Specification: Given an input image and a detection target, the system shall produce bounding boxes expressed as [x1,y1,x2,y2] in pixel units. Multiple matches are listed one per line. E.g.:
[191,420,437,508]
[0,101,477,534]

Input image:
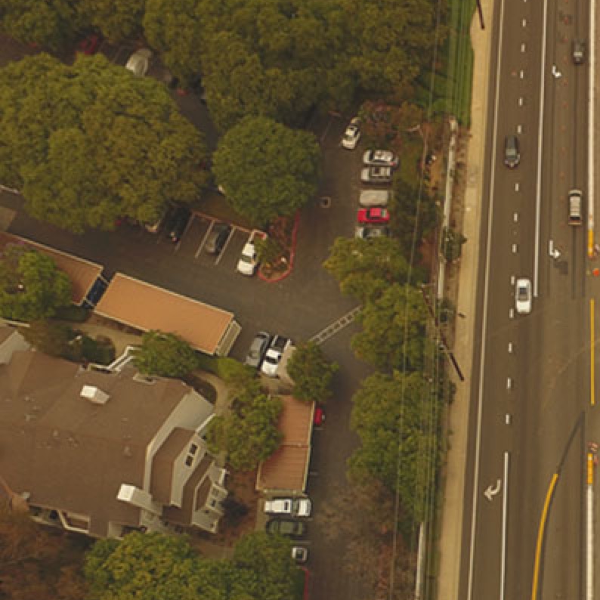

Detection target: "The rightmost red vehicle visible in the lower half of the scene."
[309,410,325,424]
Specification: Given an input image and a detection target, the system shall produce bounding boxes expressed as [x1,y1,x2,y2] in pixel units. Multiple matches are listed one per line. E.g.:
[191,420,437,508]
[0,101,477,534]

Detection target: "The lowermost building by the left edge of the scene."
[0,343,228,541]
